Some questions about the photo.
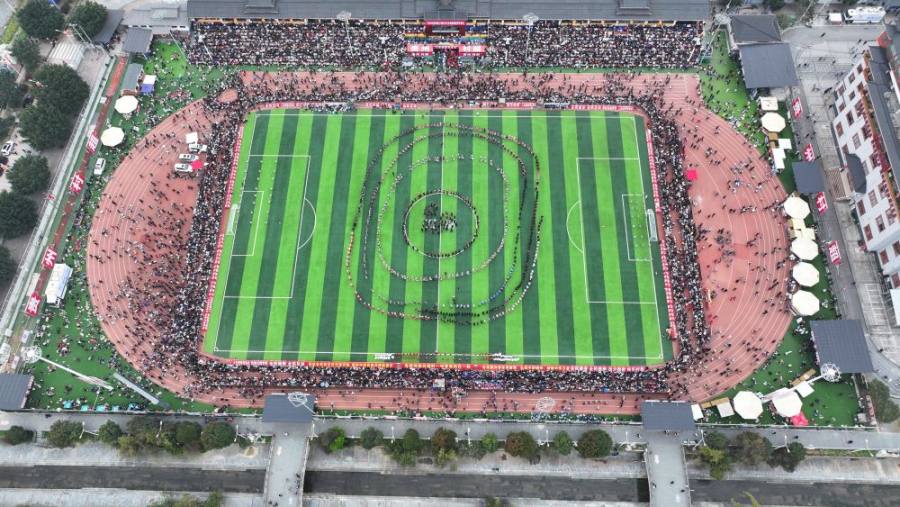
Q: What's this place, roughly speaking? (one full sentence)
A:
This image shows a sports ground.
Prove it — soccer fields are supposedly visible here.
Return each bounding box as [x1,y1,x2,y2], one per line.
[199,109,679,366]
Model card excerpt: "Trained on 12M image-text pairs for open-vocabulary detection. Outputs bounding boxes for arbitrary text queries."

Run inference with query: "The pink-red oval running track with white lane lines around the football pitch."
[87,71,794,415]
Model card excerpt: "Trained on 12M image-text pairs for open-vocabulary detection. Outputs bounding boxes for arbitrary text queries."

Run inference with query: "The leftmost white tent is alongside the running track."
[45,264,76,303]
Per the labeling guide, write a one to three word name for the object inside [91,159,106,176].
car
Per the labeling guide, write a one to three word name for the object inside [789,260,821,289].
umbrella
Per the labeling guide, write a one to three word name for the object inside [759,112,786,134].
umbrella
